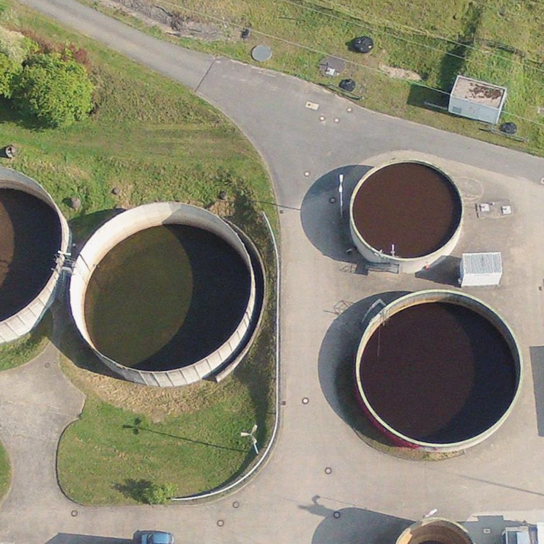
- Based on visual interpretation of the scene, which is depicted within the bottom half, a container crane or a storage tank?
storage tank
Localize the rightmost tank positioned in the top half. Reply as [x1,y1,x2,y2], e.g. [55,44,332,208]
[350,157,461,275]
